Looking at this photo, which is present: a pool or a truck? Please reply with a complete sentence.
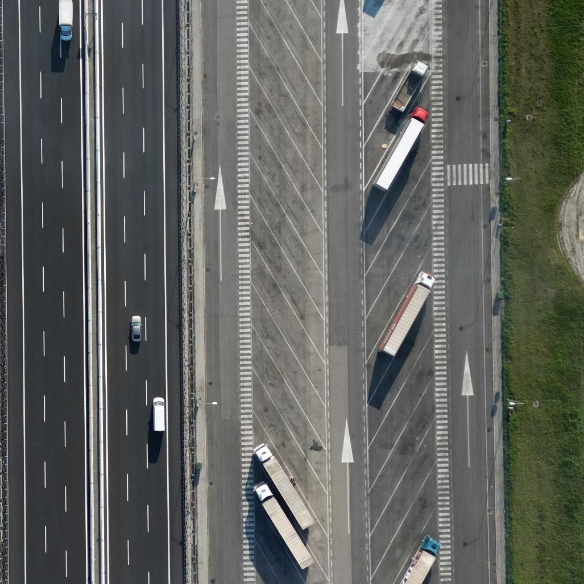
The one in the frame is a truck.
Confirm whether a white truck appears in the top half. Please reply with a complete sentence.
Yes, there is a white truck in the top half.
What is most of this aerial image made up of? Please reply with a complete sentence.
The scene is dominated by paved ground.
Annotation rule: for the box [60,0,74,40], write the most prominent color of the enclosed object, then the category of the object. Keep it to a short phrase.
white vehicle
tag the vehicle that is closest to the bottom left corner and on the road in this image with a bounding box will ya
[151,396,165,432]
